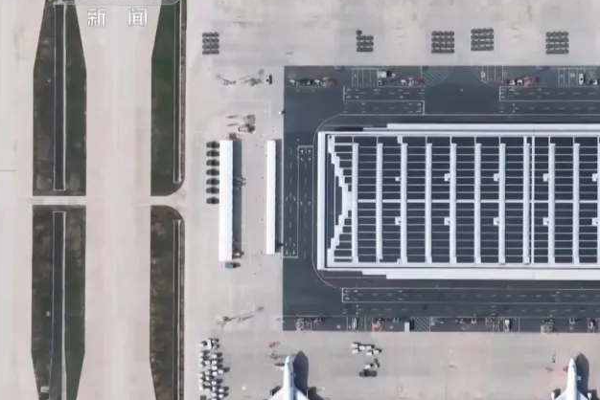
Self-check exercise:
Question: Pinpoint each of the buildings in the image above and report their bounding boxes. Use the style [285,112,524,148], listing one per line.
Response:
[318,124,600,280]
[219,139,236,261]
[266,140,278,255]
